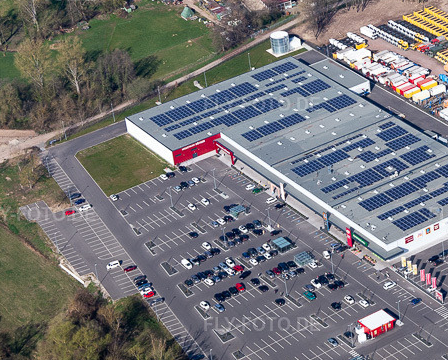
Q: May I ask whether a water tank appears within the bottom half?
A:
No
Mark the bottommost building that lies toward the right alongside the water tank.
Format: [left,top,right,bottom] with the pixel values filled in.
[125,57,448,263]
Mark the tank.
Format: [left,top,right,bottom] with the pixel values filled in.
[262,33,303,62]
